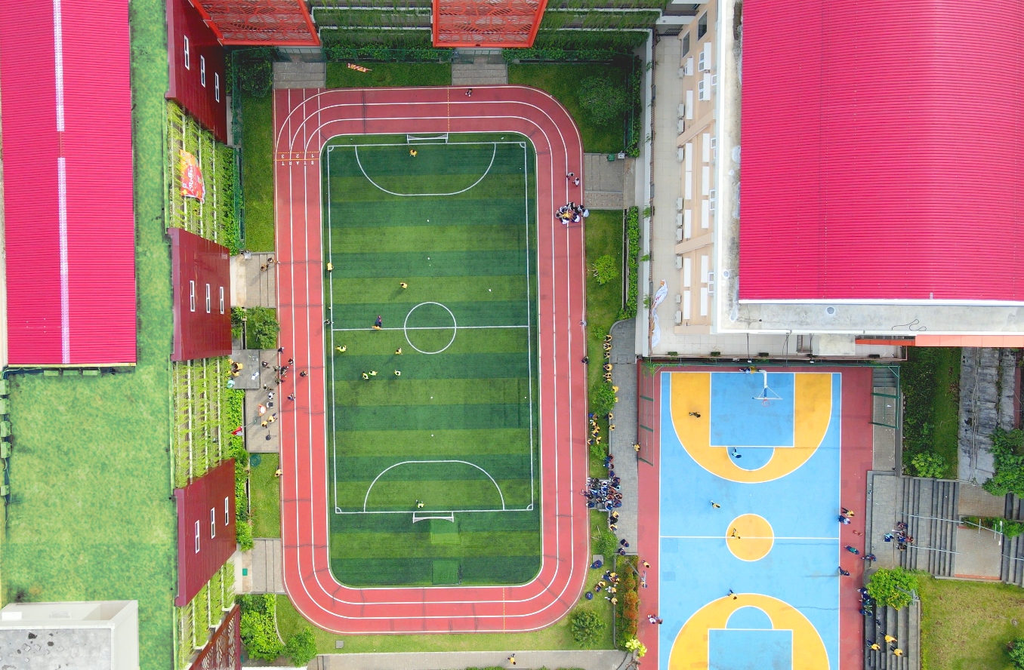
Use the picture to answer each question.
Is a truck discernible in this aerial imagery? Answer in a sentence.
No, no truck can be seen from above.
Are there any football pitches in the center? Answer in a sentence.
Yes, the scene does show a football pitch in the center.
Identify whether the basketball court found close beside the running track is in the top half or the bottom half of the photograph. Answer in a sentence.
The bottom half of the photo is where the basketball court found close beside the running track is.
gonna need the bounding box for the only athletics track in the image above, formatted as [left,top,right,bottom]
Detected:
[274,84,592,636]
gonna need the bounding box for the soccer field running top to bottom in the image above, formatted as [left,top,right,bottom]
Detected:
[321,132,541,587]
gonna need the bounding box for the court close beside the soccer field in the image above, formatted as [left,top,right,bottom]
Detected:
[638,361,873,670]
